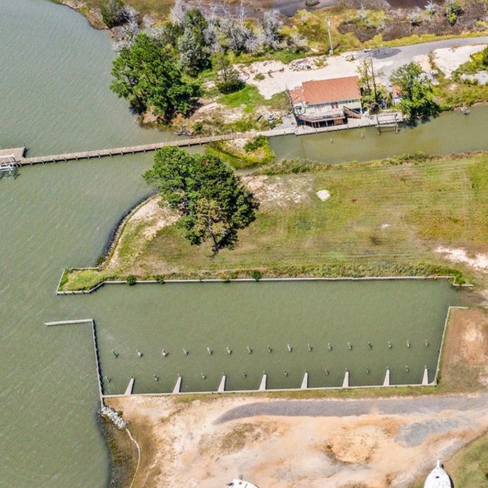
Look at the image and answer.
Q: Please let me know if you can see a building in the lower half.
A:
No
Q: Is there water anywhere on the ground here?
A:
Yes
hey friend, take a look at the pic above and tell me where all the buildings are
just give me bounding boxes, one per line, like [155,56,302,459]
[385,83,402,103]
[288,75,362,131]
